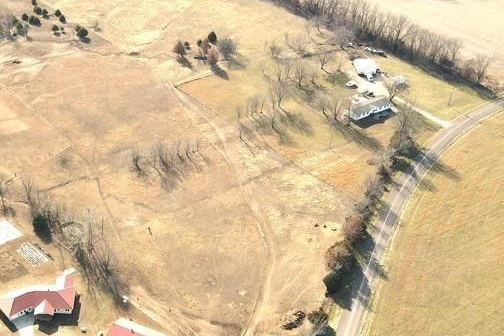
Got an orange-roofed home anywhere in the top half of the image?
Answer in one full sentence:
No, no orange-roofed home can be made out in the top half of the image.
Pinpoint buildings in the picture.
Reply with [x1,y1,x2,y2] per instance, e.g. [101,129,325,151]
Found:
[108,318,168,336]
[0,272,75,325]
[349,58,380,78]
[343,93,393,119]
[389,74,412,86]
